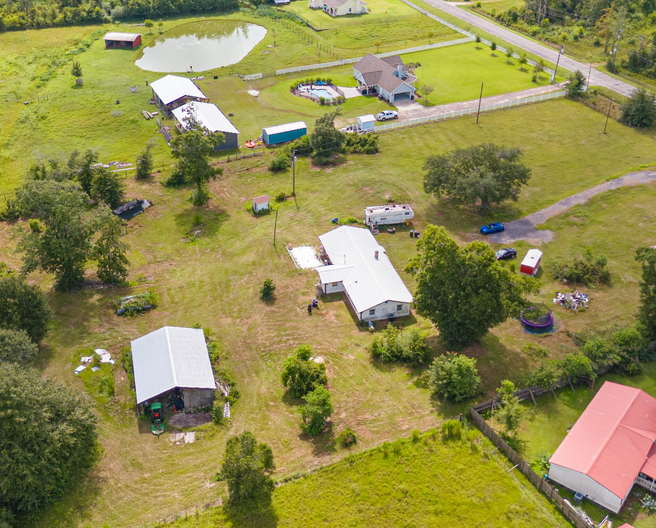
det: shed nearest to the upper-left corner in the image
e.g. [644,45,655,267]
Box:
[103,32,140,50]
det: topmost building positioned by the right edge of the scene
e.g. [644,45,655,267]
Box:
[548,381,656,514]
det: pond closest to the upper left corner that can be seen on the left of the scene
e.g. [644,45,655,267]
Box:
[136,20,267,72]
